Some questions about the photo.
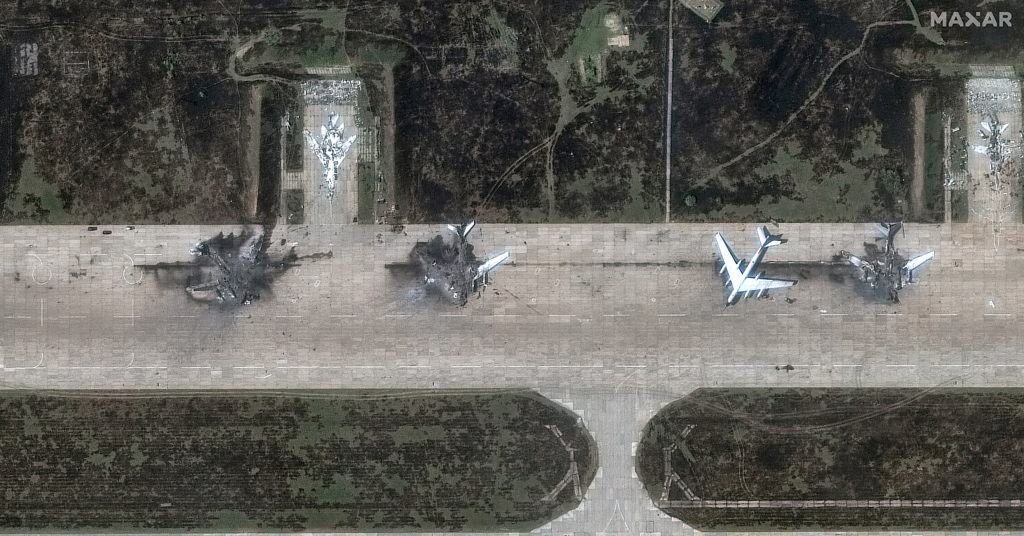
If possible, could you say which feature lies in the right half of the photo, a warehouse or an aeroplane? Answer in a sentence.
It is an aeroplane that can be seen in the right half of the photo.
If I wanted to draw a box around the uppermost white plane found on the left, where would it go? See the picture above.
[303,112,357,202]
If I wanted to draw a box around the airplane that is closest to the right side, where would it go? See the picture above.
[973,112,1024,188]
